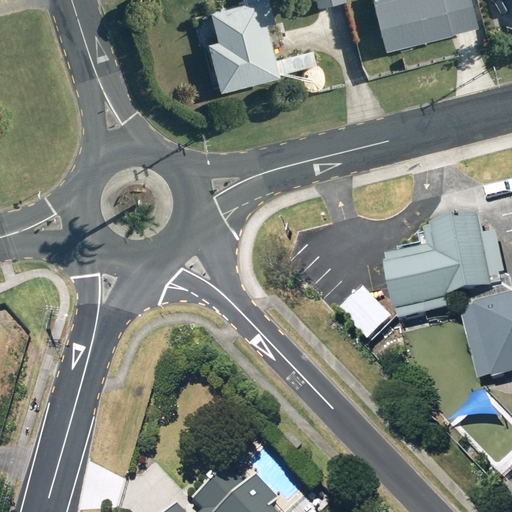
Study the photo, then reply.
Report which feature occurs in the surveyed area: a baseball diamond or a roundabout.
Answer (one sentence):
I can see a roundabout in this picture.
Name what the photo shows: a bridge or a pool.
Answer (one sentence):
This aerial view contains a pool.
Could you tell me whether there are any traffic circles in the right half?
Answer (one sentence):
No, there is no traffic circle in the right half.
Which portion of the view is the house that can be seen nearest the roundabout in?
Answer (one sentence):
The house that can be seen nearest the roundabout is in the top part of the image.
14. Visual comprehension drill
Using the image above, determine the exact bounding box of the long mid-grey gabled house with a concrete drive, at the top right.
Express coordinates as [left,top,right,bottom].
[376,0,479,54]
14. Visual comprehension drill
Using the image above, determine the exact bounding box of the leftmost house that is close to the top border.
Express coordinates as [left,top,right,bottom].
[208,0,282,94]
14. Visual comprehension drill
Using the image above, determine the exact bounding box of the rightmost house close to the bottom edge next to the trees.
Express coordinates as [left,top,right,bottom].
[190,472,278,512]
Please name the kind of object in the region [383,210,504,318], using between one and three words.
building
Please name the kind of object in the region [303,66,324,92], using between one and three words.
umbrella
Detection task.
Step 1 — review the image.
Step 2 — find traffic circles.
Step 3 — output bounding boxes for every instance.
[100,167,174,240]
